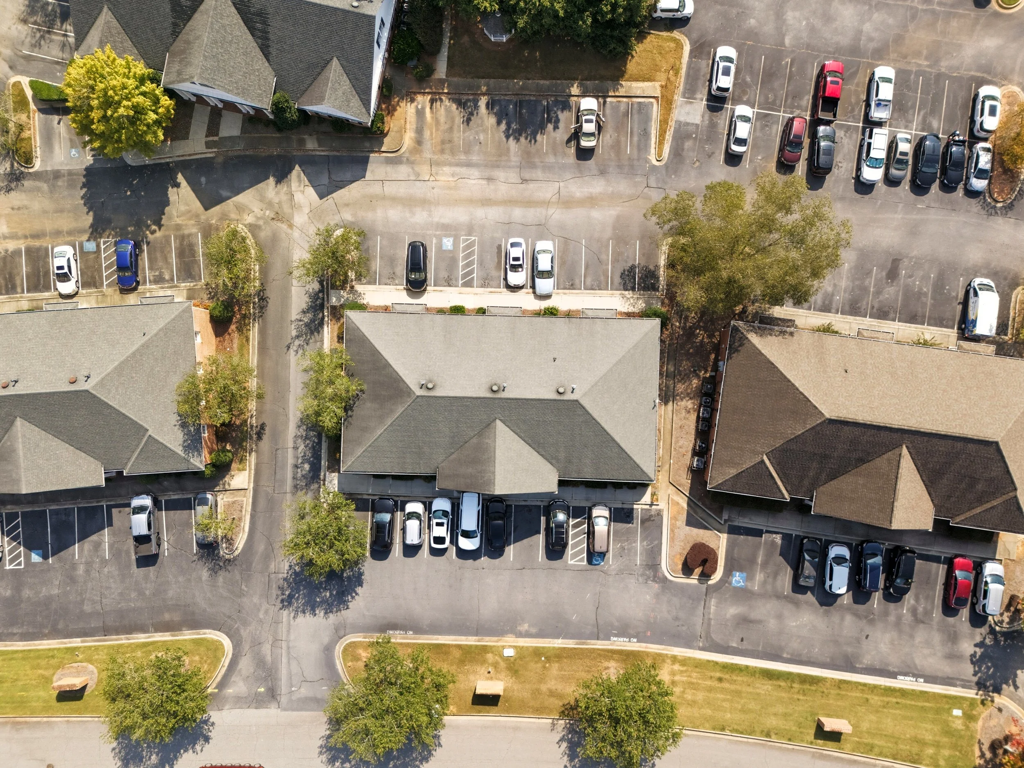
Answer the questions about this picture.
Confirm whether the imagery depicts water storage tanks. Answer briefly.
No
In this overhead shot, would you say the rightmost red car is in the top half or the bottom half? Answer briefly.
bottom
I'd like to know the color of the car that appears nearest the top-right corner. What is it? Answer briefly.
white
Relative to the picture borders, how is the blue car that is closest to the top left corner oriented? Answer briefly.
from top to bottom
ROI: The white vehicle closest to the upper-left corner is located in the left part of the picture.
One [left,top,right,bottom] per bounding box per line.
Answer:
[51,245,79,296]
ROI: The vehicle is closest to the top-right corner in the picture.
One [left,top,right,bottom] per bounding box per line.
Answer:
[972,85,1005,138]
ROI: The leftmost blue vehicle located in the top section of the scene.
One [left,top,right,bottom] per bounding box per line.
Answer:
[112,238,139,290]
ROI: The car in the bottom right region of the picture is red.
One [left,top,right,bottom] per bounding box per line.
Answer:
[945,554,975,610]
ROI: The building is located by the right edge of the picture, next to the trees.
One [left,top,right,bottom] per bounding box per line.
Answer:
[700,315,1024,535]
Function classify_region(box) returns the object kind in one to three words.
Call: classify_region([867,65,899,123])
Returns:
truck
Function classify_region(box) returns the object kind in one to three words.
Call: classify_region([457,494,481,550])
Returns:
vehicle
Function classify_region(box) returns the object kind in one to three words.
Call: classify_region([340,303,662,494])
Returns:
building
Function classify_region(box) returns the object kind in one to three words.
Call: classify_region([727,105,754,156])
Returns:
car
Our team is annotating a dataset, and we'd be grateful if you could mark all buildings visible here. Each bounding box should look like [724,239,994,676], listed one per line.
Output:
[340,303,662,494]
[0,295,221,494]
[63,0,406,134]
[700,315,1024,535]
